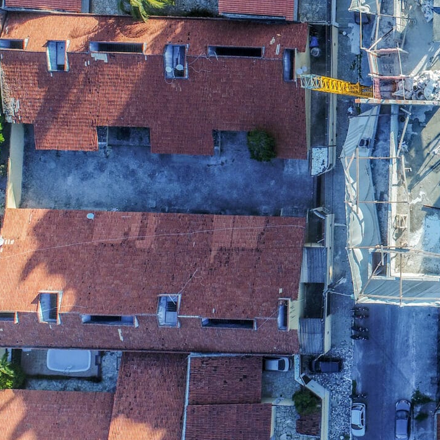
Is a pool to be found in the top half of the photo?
No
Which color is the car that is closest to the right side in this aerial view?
blue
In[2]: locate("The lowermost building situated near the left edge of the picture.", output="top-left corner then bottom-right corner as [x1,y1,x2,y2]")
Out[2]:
[0,383,115,440]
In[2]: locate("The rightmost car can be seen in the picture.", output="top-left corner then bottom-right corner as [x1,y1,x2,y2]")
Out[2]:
[392,398,412,440]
